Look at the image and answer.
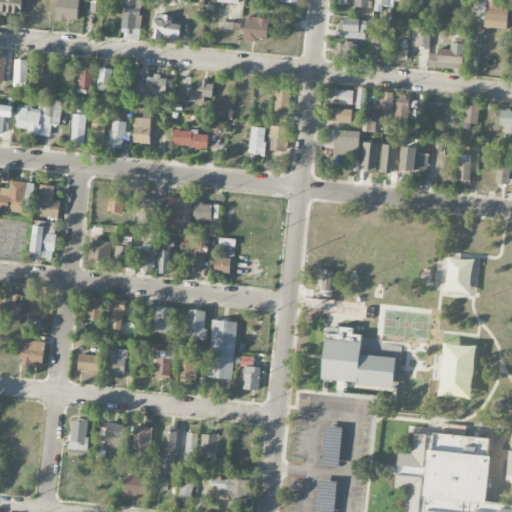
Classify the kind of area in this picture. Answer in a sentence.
This looks like a residential area.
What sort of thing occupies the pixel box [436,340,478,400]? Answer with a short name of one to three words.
building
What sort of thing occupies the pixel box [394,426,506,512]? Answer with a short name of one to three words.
building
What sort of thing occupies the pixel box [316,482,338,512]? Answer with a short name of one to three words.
solar array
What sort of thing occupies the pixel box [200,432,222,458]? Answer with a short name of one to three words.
house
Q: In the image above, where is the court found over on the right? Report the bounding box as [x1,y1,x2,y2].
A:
[377,304,432,342]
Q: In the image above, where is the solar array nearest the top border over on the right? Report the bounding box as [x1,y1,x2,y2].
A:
[322,427,342,466]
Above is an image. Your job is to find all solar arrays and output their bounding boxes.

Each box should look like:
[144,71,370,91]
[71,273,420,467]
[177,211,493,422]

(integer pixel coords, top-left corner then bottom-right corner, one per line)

[322,427,342,466]
[316,482,338,512]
